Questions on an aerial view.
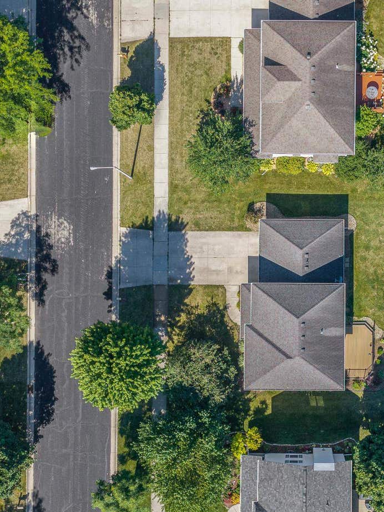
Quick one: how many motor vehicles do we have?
none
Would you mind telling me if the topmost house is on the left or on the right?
right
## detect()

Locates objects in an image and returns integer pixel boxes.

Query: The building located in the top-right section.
[242,0,356,175]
